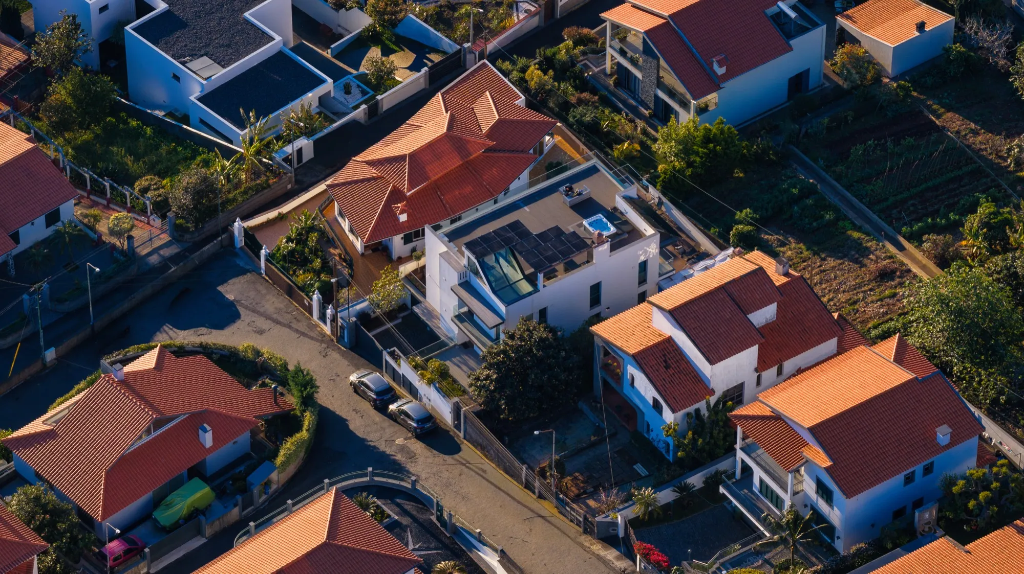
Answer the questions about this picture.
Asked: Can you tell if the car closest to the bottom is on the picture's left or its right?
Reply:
left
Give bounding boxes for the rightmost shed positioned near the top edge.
[836,0,955,76]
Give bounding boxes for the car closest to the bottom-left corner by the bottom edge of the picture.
[101,535,146,567]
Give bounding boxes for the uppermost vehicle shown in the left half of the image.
[350,371,395,408]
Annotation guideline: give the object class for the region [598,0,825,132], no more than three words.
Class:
house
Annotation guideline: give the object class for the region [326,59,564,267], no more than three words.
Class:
house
